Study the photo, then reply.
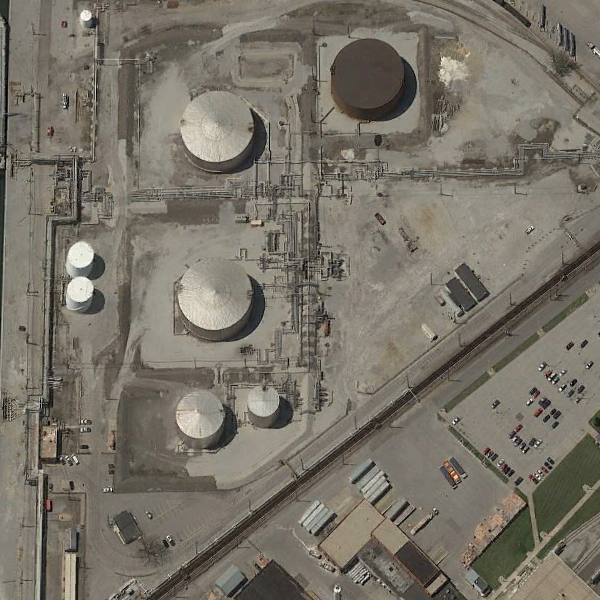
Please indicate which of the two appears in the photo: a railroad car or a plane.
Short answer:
railroad car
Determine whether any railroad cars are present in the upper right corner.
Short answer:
Yes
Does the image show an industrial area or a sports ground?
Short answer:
industrial area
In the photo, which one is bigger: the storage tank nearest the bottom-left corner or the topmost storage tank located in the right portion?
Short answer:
the topmost storage tank located in the right portion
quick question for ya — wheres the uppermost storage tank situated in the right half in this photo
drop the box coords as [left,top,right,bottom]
[331,37,405,122]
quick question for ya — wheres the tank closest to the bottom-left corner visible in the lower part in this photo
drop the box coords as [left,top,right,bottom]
[175,390,225,451]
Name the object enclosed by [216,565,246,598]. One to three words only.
shed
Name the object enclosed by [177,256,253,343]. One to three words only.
storage tank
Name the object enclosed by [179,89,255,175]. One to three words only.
storage tank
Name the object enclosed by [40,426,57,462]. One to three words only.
building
